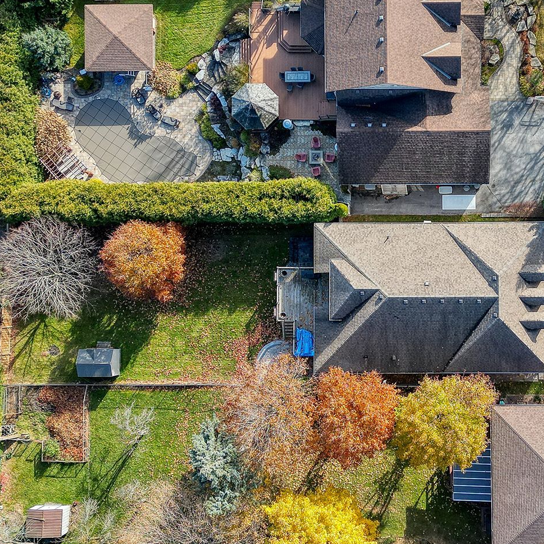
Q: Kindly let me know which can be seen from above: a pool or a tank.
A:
pool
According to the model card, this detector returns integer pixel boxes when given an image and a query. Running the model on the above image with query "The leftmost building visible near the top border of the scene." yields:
[83,3,164,78]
